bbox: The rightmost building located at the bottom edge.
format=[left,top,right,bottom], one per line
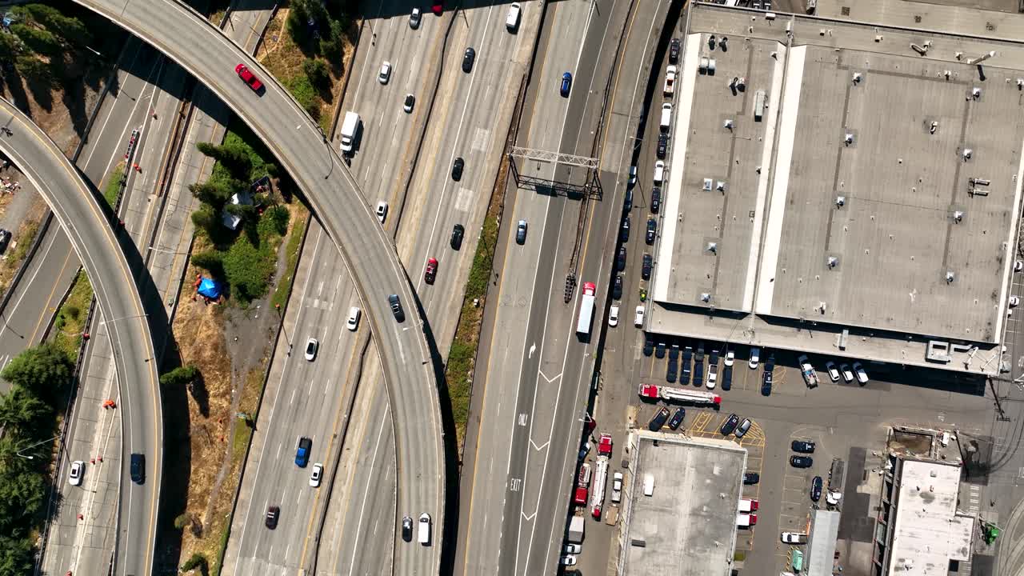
[869,455,974,576]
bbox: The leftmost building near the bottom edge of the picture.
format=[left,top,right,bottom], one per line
[616,430,748,576]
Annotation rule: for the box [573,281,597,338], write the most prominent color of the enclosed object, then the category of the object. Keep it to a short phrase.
white truck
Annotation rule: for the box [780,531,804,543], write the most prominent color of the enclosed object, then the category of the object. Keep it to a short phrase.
white vehicle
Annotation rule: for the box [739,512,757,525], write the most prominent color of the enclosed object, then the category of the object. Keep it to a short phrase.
white vehicle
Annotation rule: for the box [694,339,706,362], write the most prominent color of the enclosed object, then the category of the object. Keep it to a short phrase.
black vehicle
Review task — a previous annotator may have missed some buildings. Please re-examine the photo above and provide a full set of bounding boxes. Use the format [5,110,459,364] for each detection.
[616,430,748,576]
[797,504,840,576]
[869,455,974,576]
[640,1,1024,375]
